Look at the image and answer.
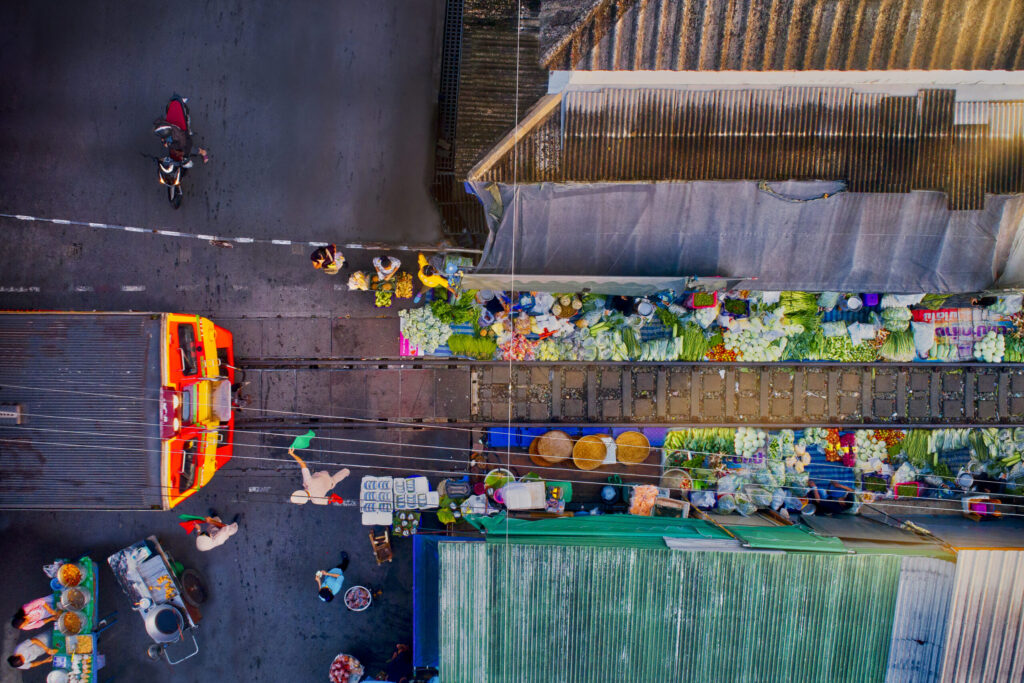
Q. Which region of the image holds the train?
left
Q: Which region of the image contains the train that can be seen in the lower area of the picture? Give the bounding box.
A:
[0,310,251,512]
